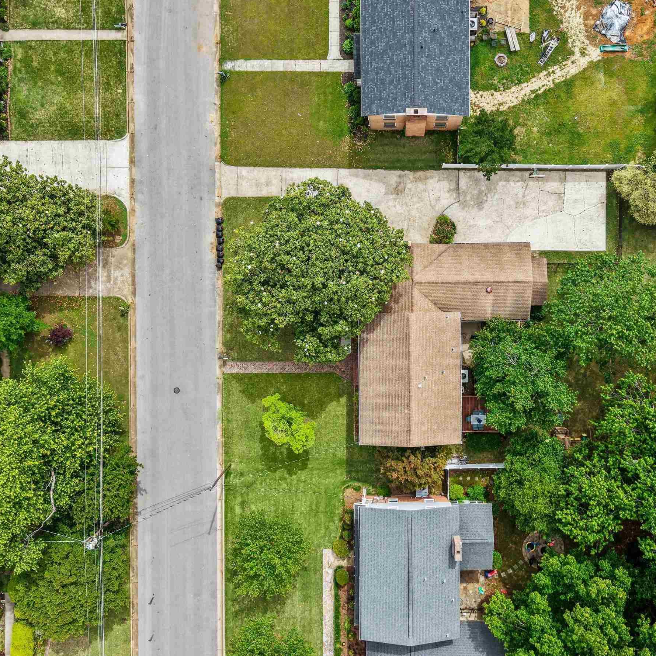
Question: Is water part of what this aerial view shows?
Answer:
No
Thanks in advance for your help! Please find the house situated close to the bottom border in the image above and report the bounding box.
[353,498,519,656]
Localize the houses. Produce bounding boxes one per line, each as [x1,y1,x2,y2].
[354,241,549,451]
[353,498,519,656]
[353,0,470,142]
